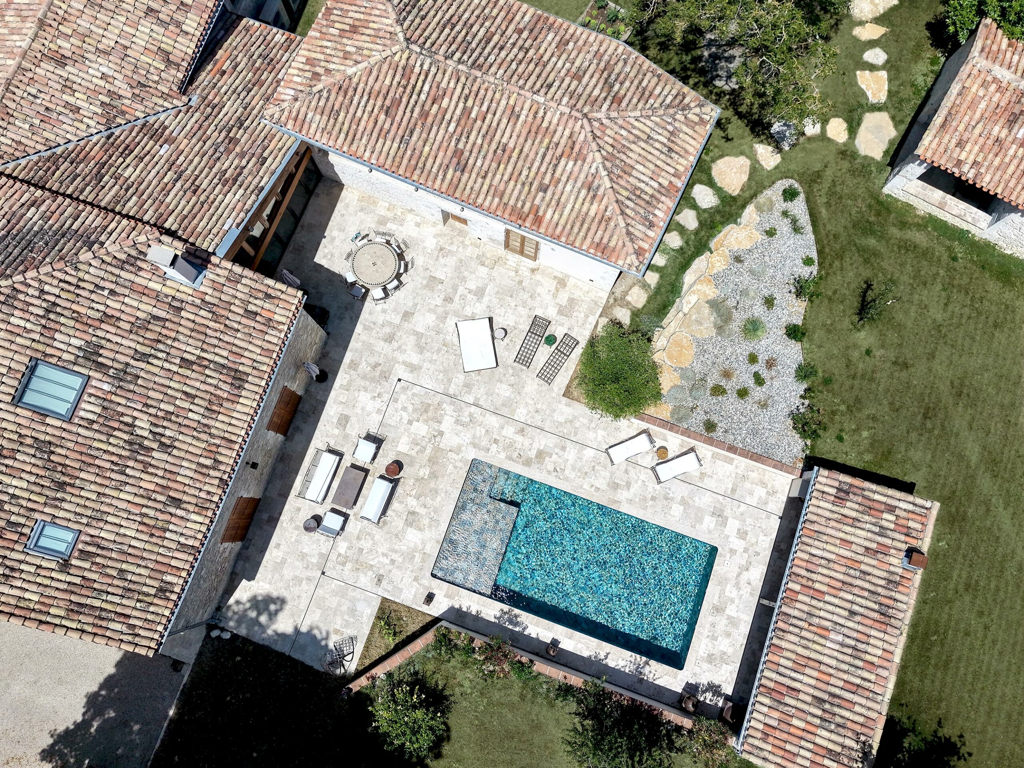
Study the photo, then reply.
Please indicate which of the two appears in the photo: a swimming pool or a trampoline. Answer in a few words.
swimming pool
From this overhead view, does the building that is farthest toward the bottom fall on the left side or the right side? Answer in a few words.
right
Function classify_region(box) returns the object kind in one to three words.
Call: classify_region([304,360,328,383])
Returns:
umbrella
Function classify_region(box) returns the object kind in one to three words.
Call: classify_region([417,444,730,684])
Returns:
swimming pool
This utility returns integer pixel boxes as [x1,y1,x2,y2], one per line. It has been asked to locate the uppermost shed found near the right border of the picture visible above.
[884,18,1024,256]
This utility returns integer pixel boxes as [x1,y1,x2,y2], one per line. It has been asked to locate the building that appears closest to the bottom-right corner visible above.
[730,464,942,768]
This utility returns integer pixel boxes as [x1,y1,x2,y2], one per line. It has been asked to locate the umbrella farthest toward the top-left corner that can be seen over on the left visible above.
[285,271,310,297]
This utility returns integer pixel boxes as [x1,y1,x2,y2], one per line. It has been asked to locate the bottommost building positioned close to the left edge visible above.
[0,169,326,659]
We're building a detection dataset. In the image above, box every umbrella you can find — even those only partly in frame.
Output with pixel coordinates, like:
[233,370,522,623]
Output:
[285,271,310,297]
[304,360,328,383]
